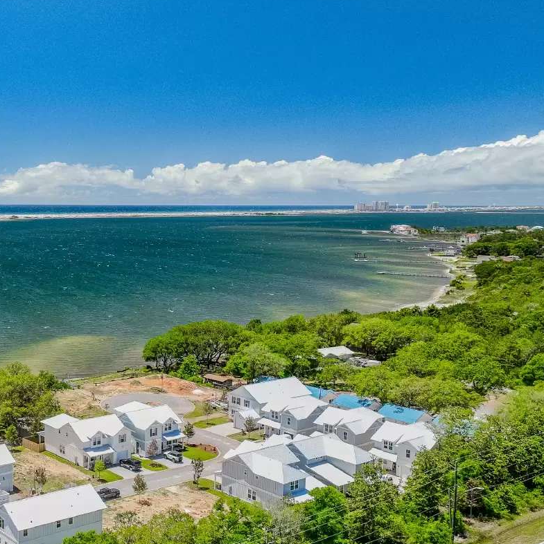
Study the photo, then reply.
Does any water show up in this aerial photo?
Yes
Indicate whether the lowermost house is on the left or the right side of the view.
left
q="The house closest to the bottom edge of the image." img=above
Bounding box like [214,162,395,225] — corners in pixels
[0,482,107,544]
